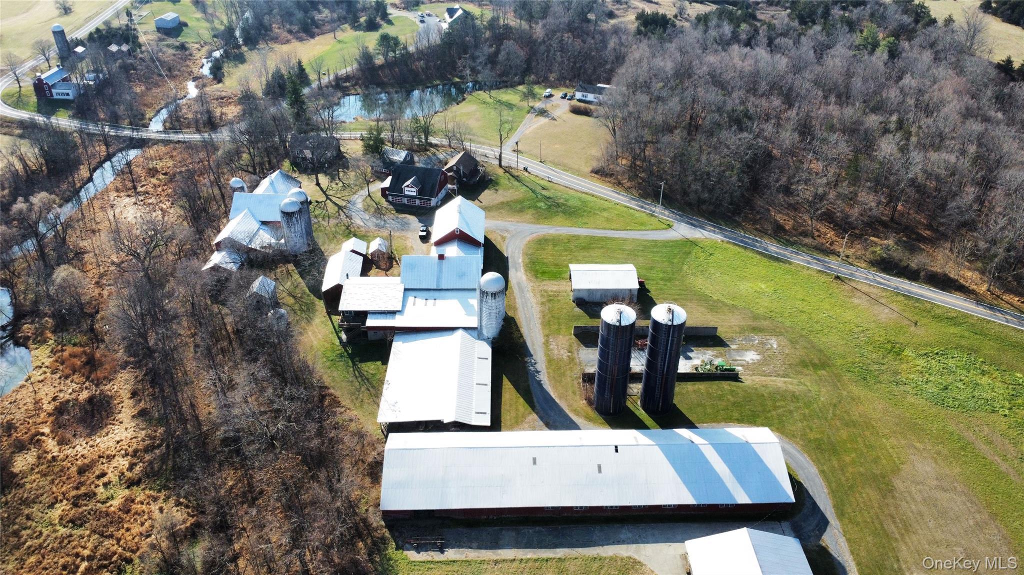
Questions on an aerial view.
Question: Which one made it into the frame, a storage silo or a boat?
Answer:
storage silo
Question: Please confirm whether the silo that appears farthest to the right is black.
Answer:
Yes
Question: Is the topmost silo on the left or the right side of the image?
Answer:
left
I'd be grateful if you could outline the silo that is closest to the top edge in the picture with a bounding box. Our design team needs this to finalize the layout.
[52,19,77,58]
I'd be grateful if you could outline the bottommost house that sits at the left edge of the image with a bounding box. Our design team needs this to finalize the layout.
[30,64,81,100]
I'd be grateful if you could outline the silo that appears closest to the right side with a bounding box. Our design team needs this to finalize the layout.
[639,299,688,416]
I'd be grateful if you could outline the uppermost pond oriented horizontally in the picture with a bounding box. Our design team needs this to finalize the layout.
[325,80,512,126]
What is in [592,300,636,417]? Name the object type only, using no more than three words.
silo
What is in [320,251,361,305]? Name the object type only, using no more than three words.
shed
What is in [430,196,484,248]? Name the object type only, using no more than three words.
barn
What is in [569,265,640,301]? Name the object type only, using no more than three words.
shed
